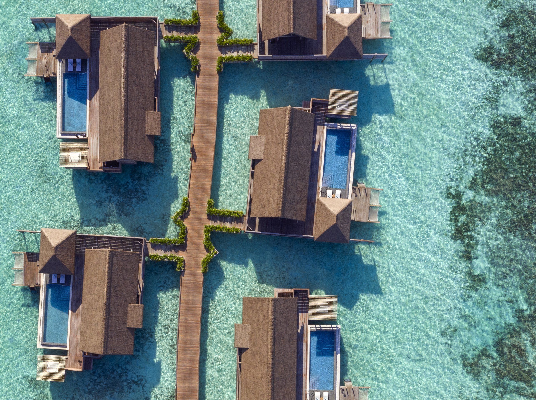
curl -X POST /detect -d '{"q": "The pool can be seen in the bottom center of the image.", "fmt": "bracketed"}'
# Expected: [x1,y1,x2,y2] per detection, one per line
[307,325,341,400]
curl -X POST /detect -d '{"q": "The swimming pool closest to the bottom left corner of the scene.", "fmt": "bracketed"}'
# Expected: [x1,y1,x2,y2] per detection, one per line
[35,274,72,351]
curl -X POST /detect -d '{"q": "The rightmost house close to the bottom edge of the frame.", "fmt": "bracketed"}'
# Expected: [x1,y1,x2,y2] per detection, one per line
[234,287,310,400]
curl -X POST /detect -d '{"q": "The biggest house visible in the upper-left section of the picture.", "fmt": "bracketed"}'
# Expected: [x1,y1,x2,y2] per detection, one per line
[58,22,162,173]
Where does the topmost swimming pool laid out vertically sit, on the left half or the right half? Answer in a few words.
left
